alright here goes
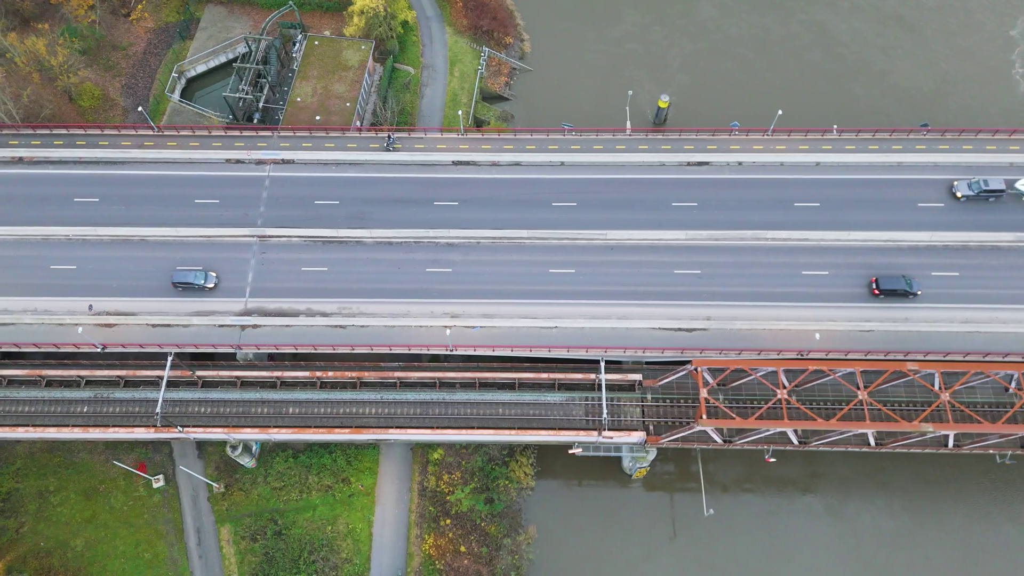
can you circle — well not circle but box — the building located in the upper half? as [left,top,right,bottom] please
[278,34,380,127]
